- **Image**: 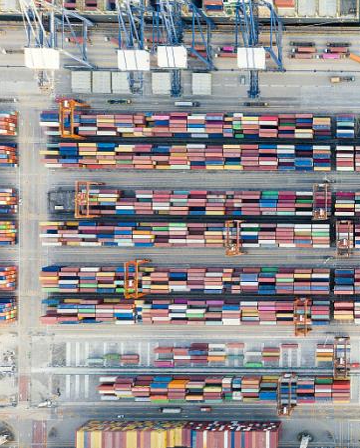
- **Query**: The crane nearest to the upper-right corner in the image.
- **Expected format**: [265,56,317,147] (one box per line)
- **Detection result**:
[236,0,287,96]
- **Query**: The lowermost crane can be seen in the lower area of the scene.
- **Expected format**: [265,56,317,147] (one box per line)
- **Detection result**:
[278,368,301,417]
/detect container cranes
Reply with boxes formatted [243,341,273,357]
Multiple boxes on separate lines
[333,332,353,381]
[18,0,100,95]
[73,182,105,218]
[335,222,356,258]
[224,221,249,256]
[115,0,169,96]
[57,100,90,141]
[294,295,316,336]
[278,368,301,417]
[311,184,333,220]
[124,258,153,299]
[236,0,287,96]
[154,0,217,96]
